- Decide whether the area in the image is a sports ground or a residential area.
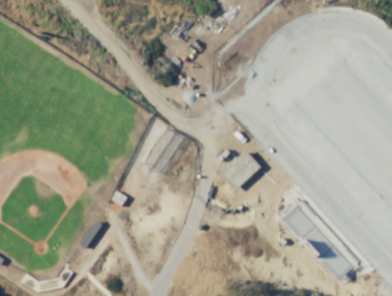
sports ground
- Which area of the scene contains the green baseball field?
left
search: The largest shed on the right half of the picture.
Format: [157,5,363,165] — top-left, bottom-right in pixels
[224,153,261,188]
